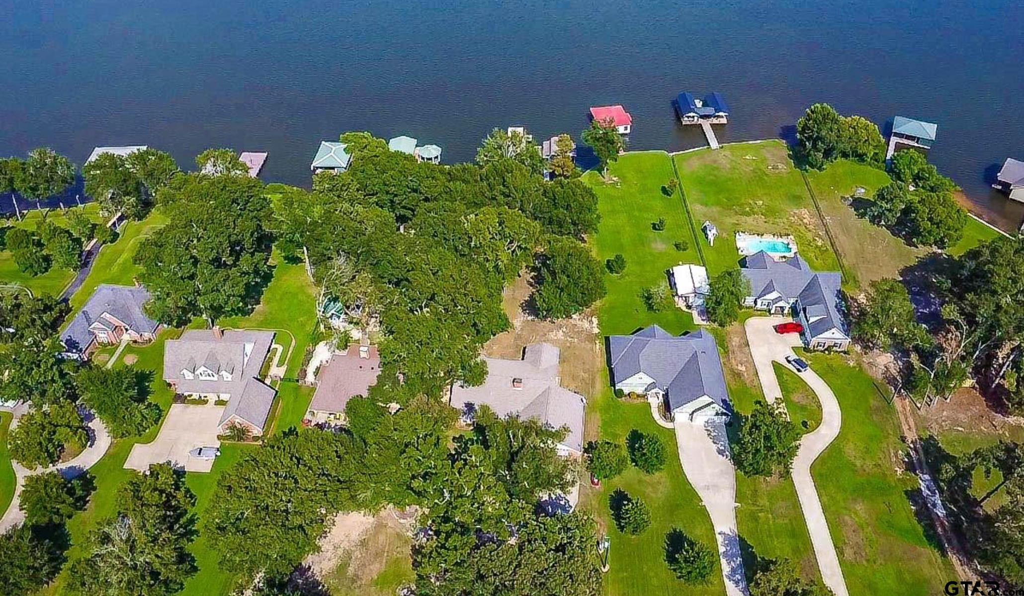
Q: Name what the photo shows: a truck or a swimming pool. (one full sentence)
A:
There is a swimming pool in the scene.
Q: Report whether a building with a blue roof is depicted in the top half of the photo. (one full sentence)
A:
Yes, in the top half of the photo there is a building with a blue roof.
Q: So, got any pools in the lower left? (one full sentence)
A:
No, the scene shows no pool in the lower left.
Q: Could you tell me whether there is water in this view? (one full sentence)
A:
Yes, the picture does contain water.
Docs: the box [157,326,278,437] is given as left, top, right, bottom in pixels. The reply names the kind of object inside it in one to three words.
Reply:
house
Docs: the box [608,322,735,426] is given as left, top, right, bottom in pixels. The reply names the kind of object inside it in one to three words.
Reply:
house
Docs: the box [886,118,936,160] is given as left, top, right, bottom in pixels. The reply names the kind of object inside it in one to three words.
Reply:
building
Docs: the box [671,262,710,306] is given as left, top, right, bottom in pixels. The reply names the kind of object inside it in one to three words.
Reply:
shed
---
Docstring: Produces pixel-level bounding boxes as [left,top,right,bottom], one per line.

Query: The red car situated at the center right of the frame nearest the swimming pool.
[775,323,805,337]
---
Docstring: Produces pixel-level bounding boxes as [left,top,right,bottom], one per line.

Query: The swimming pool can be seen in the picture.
[736,231,798,260]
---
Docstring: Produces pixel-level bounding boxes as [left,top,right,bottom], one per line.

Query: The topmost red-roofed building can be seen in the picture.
[590,107,632,141]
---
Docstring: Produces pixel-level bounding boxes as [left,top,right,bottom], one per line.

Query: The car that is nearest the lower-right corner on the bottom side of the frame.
[783,352,813,373]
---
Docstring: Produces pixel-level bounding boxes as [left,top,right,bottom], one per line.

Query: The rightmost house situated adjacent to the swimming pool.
[729,246,853,351]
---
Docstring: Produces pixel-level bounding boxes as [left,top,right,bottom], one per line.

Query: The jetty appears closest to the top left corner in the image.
[234,149,269,182]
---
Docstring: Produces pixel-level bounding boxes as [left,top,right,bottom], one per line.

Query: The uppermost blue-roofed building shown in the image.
[673,90,731,131]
